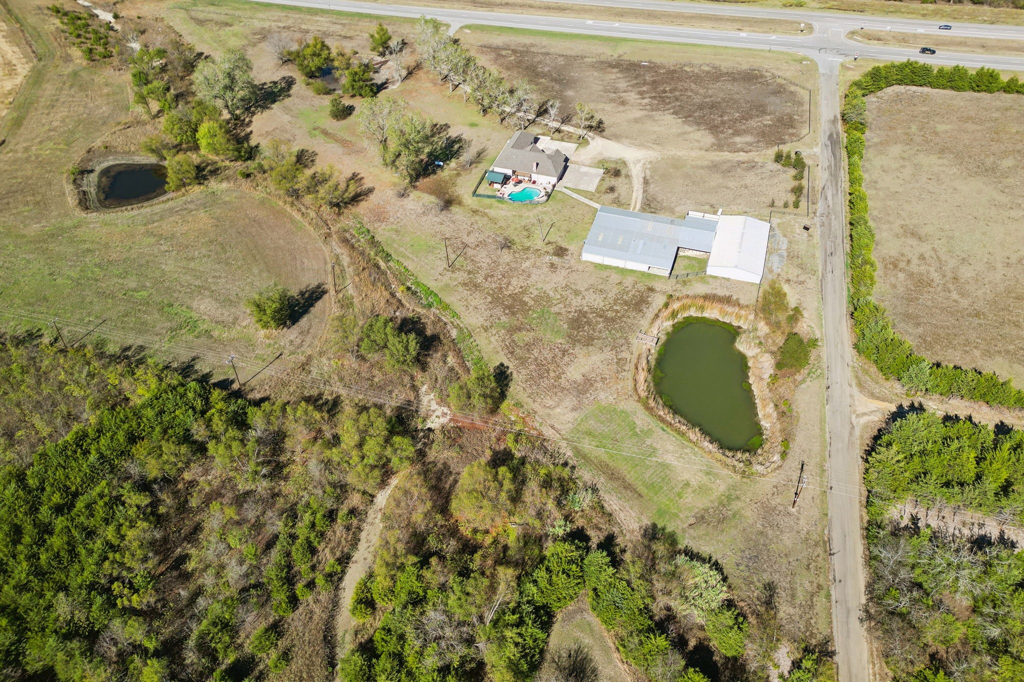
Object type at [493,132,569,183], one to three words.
house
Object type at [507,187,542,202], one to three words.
swimming pool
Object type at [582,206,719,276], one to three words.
barn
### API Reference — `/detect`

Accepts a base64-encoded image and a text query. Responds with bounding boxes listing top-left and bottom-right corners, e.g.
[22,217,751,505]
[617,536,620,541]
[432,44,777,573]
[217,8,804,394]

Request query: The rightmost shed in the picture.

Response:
[706,216,774,285]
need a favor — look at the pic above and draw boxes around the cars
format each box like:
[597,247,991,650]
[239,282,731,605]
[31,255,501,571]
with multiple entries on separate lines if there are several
[938,24,952,29]
[919,45,936,53]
